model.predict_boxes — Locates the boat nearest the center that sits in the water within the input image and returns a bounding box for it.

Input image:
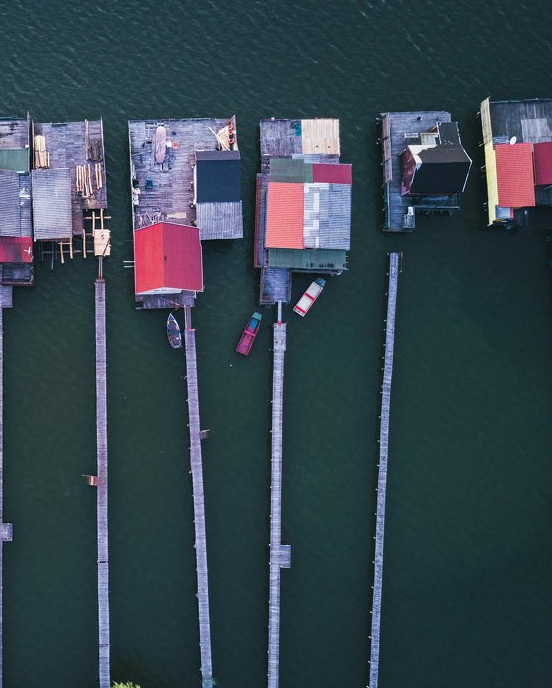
[234,312,261,357]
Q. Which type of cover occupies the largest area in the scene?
water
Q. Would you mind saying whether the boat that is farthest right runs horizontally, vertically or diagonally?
diagonally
